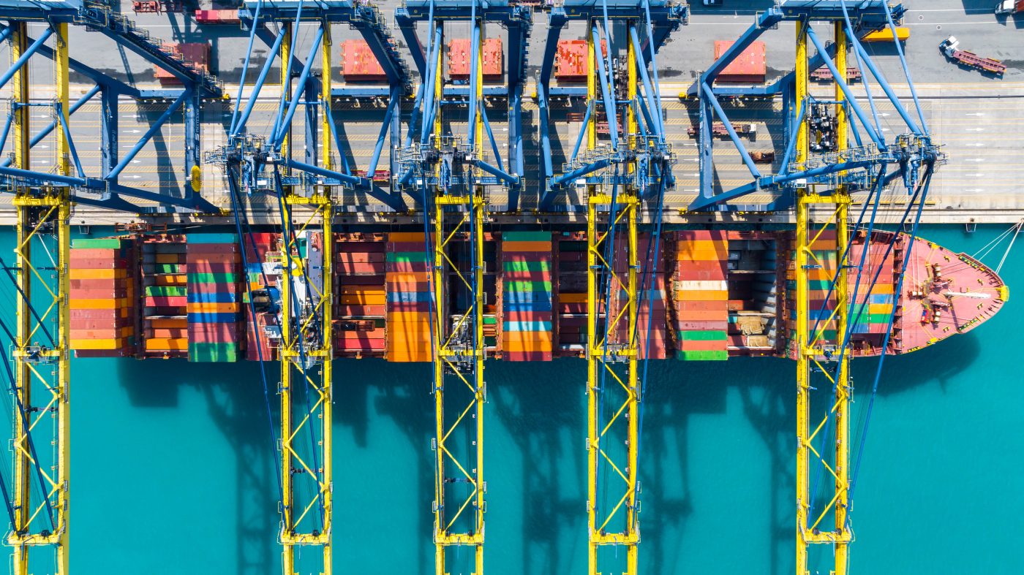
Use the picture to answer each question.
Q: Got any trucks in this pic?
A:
Yes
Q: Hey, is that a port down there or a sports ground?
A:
port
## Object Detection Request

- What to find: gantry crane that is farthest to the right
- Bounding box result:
[673,0,960,575]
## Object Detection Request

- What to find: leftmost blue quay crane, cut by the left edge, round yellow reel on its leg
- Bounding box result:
[0,0,238,575]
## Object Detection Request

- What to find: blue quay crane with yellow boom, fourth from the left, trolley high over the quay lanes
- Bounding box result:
[529,0,701,575]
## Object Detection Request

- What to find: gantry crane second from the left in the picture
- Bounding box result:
[203,0,420,575]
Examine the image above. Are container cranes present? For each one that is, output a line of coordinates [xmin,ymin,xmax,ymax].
[529,0,701,575]
[0,0,238,575]
[374,0,544,575]
[203,0,420,575]
[673,0,960,575]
